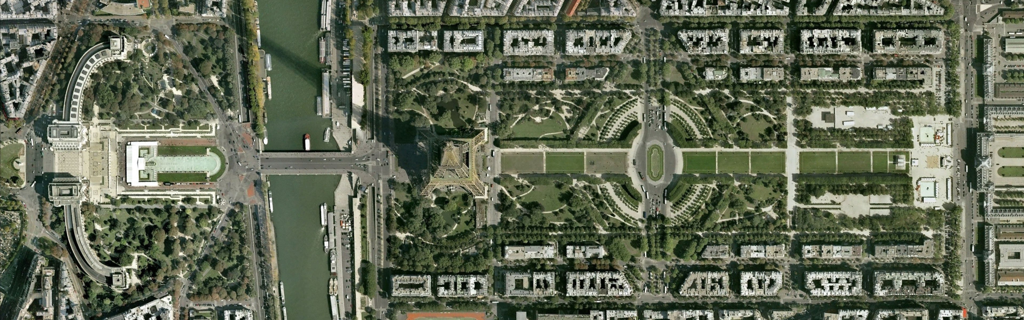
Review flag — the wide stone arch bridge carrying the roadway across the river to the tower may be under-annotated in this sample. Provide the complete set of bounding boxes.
[261,152,353,176]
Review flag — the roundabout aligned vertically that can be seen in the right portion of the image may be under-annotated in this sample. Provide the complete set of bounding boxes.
[646,140,665,185]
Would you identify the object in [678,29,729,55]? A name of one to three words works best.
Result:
building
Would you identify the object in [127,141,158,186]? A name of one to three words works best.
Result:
tent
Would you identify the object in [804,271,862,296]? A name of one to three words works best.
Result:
building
